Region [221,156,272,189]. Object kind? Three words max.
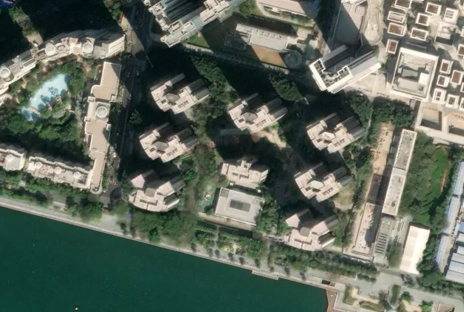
building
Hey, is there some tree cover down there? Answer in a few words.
Yes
